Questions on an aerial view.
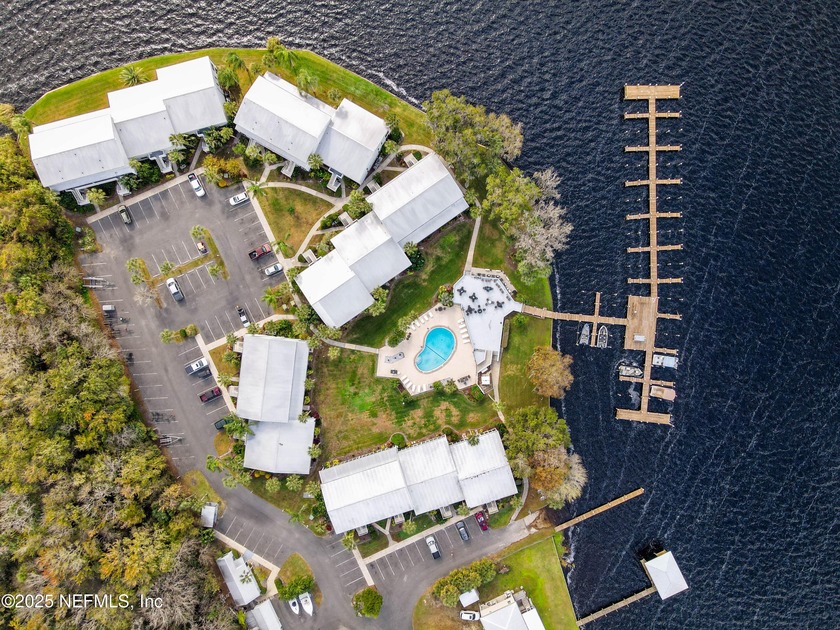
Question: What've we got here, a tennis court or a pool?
pool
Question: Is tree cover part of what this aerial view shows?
Yes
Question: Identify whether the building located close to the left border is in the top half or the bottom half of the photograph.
top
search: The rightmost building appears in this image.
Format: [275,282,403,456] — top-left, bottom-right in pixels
[638,546,689,600]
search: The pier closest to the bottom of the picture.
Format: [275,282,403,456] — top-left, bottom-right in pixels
[576,583,658,628]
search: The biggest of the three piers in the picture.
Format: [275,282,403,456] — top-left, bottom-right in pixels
[523,84,682,426]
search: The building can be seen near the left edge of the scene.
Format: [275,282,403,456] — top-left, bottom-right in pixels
[29,57,230,203]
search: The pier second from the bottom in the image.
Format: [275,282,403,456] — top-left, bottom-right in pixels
[554,488,644,531]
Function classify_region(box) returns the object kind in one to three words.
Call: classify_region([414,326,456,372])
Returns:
swimming pool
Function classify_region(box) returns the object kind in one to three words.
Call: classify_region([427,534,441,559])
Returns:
vehicle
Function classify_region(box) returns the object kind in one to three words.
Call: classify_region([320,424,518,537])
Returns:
building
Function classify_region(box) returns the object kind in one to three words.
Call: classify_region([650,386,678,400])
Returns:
boat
